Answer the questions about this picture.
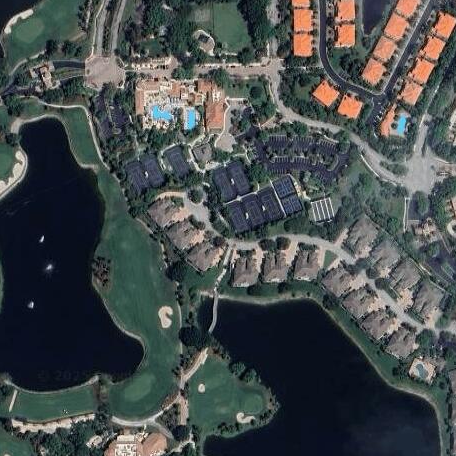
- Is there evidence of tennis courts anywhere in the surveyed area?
Yes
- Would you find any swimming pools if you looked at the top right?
Yes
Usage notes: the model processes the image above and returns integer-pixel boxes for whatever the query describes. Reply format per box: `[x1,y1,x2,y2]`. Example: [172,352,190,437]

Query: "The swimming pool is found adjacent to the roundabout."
[393,112,412,137]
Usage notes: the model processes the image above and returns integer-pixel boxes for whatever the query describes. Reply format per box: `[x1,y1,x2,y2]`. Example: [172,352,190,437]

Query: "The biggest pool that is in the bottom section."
[409,358,435,383]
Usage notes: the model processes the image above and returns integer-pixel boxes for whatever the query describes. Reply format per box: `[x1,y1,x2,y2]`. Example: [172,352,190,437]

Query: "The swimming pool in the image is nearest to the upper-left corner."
[152,104,174,121]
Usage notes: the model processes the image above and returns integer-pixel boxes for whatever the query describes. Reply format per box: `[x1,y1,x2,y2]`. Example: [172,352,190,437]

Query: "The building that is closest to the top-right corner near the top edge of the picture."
[435,11,456,37]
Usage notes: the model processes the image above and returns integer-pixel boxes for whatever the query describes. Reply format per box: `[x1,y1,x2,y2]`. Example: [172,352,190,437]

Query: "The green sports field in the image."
[213,0,251,53]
